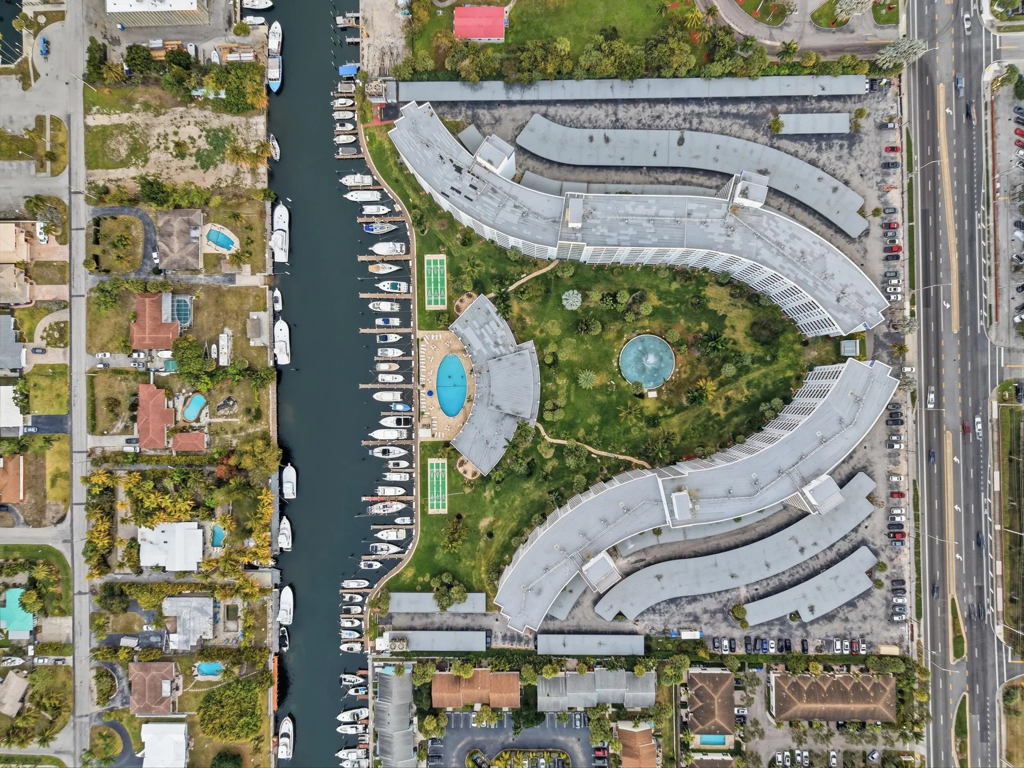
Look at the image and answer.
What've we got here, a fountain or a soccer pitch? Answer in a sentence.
Looking from above, you can make out a fountain.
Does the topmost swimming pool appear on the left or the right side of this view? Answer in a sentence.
The topmost swimming pool sits on the left side.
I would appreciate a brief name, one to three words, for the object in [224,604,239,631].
swimming pool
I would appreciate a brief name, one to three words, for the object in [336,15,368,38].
ship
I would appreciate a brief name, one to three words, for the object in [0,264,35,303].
house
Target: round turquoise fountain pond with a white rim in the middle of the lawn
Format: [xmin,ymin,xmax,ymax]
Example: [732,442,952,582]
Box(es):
[620,334,675,389]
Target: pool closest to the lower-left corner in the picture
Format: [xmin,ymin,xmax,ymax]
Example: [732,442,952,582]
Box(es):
[197,662,223,677]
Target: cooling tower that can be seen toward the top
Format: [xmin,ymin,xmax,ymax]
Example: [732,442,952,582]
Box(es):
[365,84,383,96]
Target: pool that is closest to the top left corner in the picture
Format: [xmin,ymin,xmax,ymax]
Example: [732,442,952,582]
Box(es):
[205,228,235,251]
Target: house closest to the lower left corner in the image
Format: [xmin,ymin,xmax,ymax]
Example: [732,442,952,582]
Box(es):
[0,669,29,719]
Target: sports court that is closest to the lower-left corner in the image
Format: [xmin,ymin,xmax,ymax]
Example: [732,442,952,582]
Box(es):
[428,458,447,514]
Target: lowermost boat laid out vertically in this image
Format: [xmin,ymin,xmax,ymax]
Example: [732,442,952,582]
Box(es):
[272,716,292,762]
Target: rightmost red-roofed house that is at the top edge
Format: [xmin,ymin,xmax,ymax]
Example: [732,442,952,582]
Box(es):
[454,7,504,42]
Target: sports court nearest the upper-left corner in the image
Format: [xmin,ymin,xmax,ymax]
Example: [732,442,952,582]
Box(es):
[424,254,447,310]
